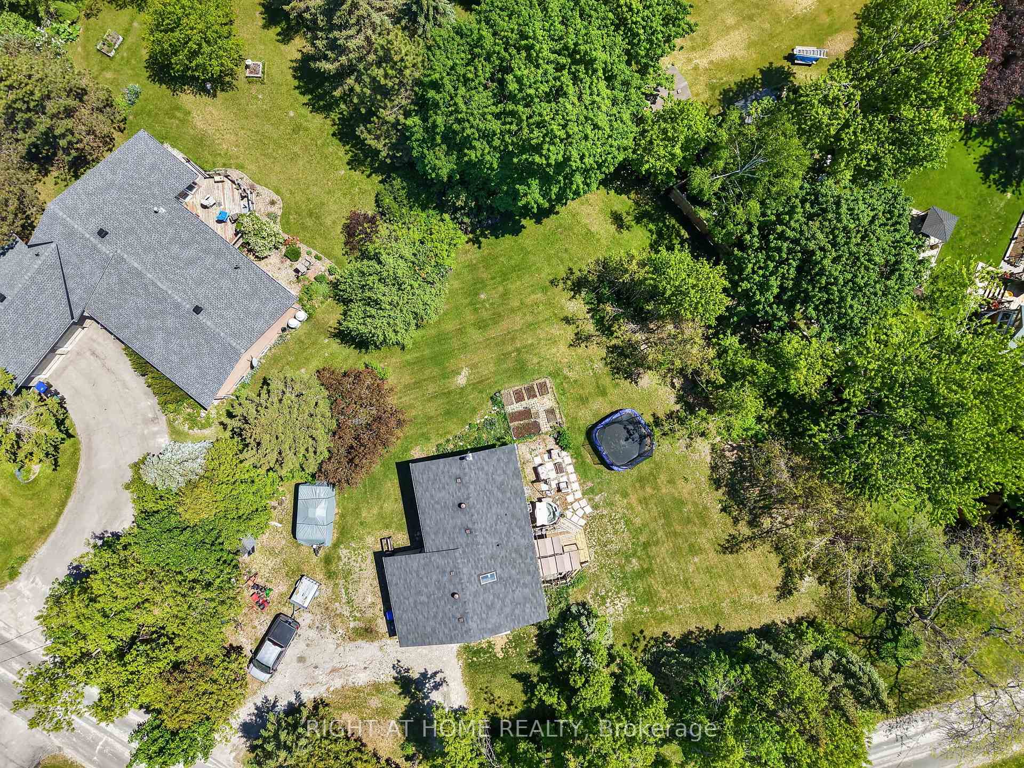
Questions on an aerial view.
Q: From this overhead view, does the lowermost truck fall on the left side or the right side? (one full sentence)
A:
You can find the lowermost truck on the left side of the picture.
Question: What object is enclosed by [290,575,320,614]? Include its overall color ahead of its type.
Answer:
white trailer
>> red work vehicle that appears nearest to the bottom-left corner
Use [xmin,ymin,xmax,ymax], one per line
[248,588,273,612]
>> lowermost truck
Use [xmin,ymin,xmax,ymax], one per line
[250,608,302,683]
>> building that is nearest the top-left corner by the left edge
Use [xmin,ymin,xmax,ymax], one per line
[0,129,309,412]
